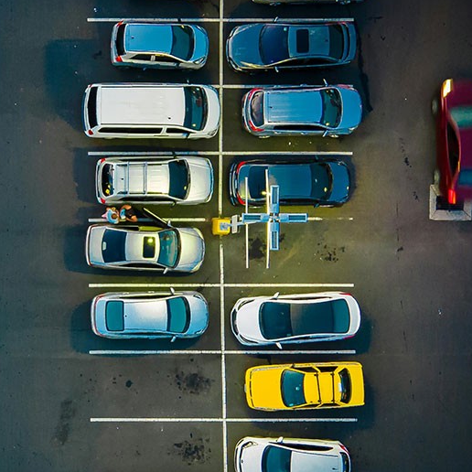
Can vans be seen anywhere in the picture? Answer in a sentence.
Yes, a van can be made out from above.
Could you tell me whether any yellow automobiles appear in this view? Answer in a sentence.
Yes, I can see a yellow automobile in this picture.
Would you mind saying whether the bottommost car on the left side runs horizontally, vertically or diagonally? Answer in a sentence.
In this picture, the bottommost car on the left side is oriented horizontally.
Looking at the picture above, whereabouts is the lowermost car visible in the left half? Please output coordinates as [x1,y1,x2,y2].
[92,290,206,345]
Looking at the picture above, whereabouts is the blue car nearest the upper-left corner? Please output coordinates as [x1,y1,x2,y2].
[113,18,206,70]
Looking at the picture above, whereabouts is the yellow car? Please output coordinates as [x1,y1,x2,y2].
[248,359,364,416]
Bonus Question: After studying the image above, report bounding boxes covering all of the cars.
[113,18,206,70]
[248,359,364,416]
[433,79,472,202]
[92,290,206,345]
[232,154,349,211]
[97,151,212,208]
[228,16,358,72]
[233,291,360,351]
[87,215,203,277]
[237,436,350,472]
[245,78,362,138]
